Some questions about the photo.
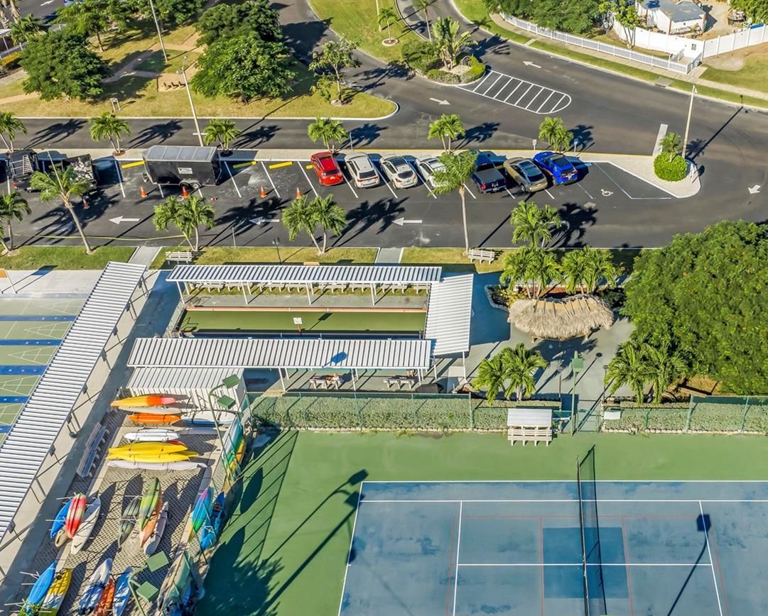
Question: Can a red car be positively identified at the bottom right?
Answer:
No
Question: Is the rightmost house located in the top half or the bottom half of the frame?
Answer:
top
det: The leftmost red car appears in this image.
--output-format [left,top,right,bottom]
[312,153,345,185]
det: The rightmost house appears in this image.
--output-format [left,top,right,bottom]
[644,0,706,36]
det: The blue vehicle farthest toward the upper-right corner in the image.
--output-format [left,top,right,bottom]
[539,150,584,183]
